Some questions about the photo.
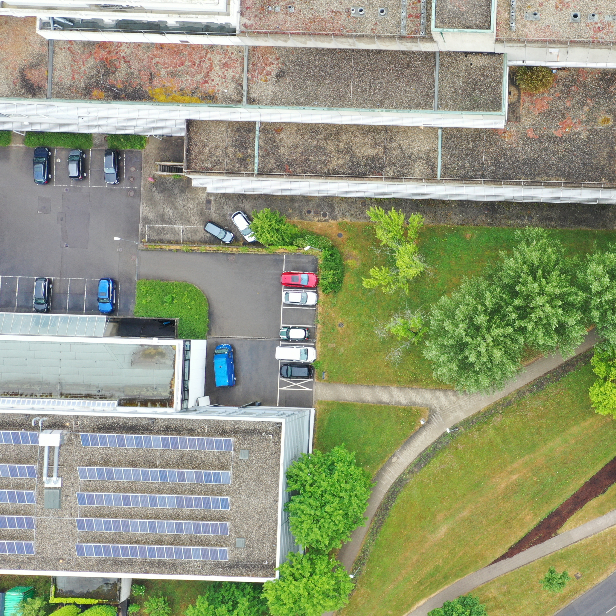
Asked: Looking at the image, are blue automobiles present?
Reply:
Yes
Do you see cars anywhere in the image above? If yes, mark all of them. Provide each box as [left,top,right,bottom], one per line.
[67,150,87,180]
[283,290,318,307]
[281,270,318,288]
[97,278,117,313]
[229,210,259,245]
[32,148,53,184]
[274,345,317,363]
[32,278,53,312]
[204,220,236,244]
[102,149,123,185]
[279,325,309,342]
[282,363,315,380]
